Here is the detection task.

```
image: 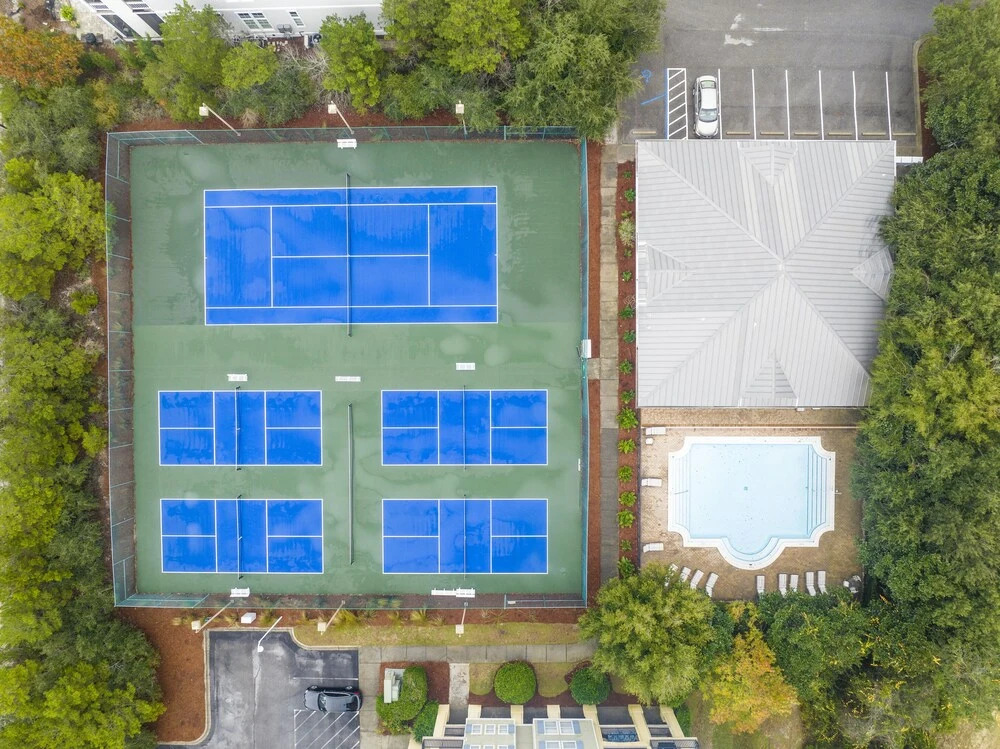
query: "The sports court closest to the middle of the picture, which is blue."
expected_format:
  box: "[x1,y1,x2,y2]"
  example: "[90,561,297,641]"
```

[382,389,548,466]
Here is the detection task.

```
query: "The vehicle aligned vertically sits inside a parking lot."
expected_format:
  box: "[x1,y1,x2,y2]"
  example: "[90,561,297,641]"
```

[693,74,723,138]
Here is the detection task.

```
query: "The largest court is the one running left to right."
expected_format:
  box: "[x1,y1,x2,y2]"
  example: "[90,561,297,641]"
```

[203,186,499,326]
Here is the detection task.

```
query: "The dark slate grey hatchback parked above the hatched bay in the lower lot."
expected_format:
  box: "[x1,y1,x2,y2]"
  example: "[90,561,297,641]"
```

[305,683,363,715]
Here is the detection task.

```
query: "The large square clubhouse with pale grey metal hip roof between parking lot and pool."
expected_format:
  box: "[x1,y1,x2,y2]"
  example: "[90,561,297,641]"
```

[635,140,899,414]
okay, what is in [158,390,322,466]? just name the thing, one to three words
sports court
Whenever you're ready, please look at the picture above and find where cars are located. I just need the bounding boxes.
[305,683,363,715]
[693,74,723,138]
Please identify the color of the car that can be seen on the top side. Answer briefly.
white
